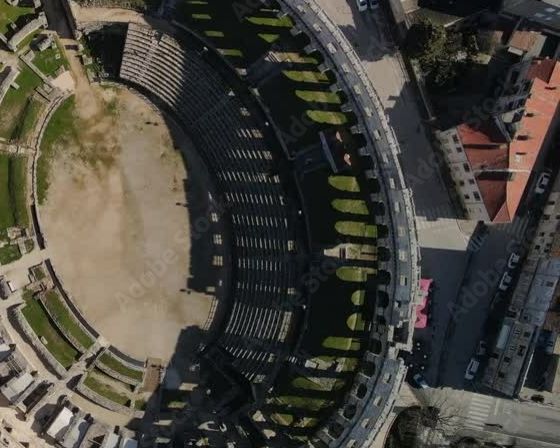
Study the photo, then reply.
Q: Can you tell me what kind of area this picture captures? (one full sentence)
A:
The picture captures a residential area.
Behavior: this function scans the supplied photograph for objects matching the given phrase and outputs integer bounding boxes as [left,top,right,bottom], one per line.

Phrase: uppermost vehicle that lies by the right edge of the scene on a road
[535,172,549,193]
